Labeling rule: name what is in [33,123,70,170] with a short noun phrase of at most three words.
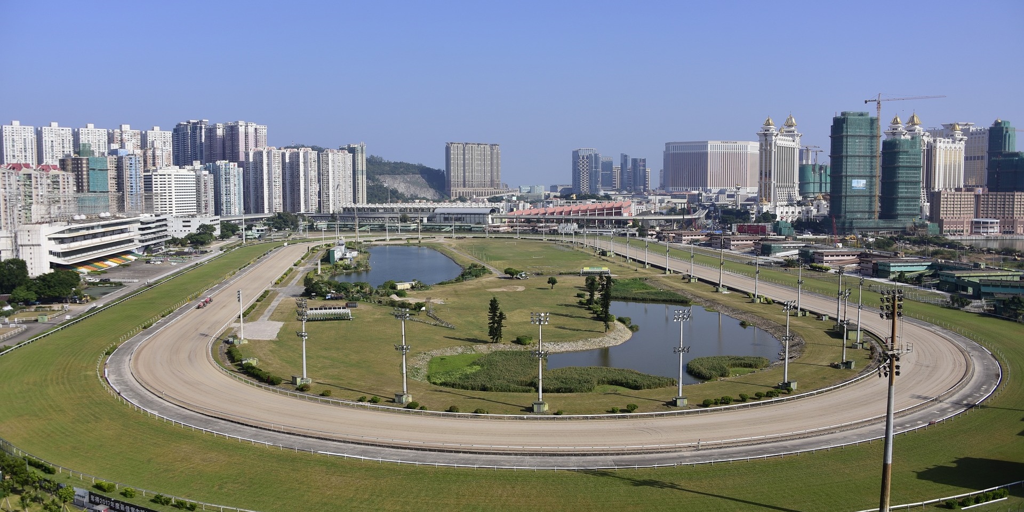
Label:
building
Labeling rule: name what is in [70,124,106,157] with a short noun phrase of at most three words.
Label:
building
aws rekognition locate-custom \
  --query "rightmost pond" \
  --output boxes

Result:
[540,281,783,388]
